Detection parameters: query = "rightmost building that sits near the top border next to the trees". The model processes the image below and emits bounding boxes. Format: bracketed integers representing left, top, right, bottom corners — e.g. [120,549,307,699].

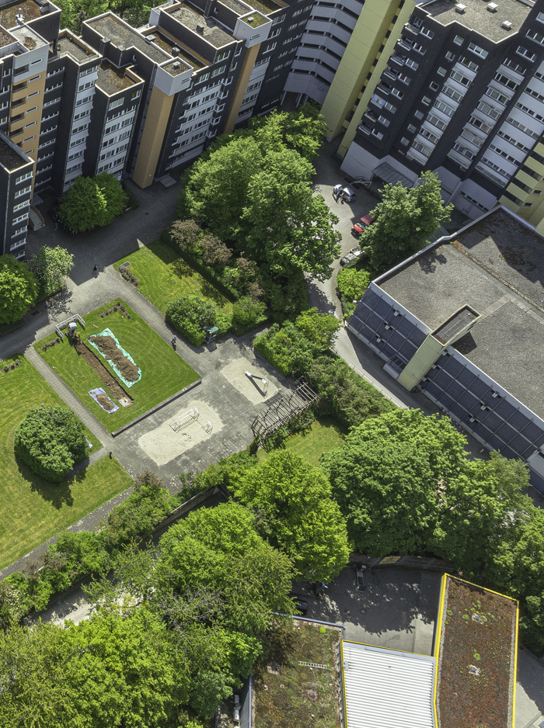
[430,0,544,231]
